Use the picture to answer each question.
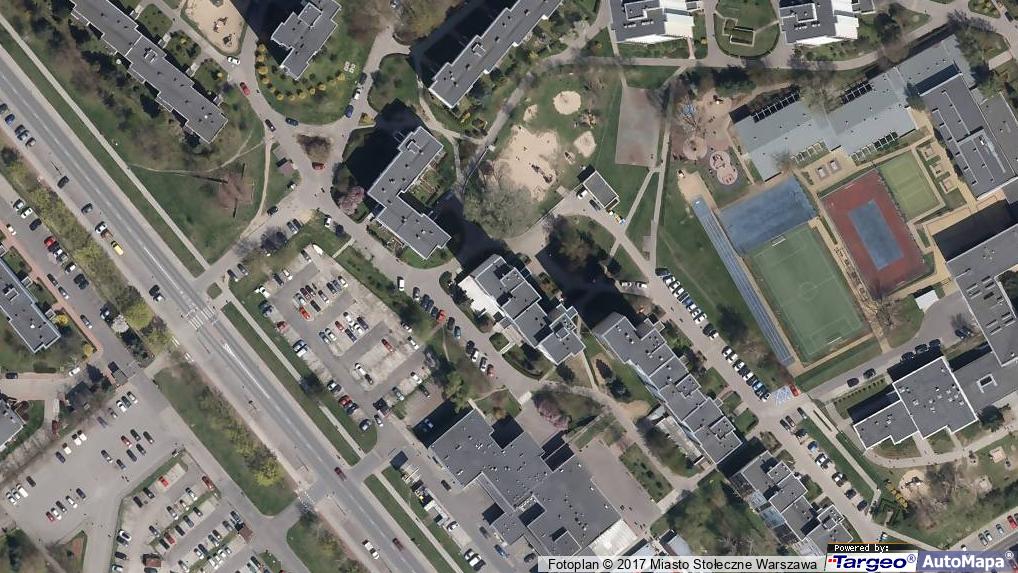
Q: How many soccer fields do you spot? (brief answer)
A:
1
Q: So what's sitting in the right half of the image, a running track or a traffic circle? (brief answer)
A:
running track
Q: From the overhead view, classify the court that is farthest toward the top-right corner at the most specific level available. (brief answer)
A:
tennis court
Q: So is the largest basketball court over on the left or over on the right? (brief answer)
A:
right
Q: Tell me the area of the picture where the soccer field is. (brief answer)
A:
right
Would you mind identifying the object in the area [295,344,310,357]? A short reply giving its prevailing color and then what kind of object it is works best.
white vehicle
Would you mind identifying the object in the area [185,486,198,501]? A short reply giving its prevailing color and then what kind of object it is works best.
gray vehicle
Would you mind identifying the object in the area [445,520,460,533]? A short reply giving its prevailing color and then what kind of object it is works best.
white vehicle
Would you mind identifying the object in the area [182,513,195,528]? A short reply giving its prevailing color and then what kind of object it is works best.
gray vehicle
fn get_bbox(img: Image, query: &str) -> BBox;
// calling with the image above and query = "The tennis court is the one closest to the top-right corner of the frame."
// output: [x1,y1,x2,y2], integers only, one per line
[880,149,938,220]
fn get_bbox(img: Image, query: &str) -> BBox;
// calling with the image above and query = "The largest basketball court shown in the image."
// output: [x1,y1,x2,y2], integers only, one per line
[820,169,926,291]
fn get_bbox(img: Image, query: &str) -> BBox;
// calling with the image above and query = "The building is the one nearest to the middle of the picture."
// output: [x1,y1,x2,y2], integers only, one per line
[458,253,585,370]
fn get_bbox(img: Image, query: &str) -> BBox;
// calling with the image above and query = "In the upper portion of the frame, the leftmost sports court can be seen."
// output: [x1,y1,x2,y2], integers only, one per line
[720,177,817,256]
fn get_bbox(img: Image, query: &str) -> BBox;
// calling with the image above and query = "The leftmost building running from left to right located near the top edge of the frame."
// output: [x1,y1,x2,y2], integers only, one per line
[608,0,705,46]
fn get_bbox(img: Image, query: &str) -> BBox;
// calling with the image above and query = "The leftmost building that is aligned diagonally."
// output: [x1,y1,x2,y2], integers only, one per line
[0,249,64,354]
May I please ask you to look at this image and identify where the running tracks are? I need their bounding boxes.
[692,197,795,366]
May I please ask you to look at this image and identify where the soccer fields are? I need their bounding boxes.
[748,224,868,364]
